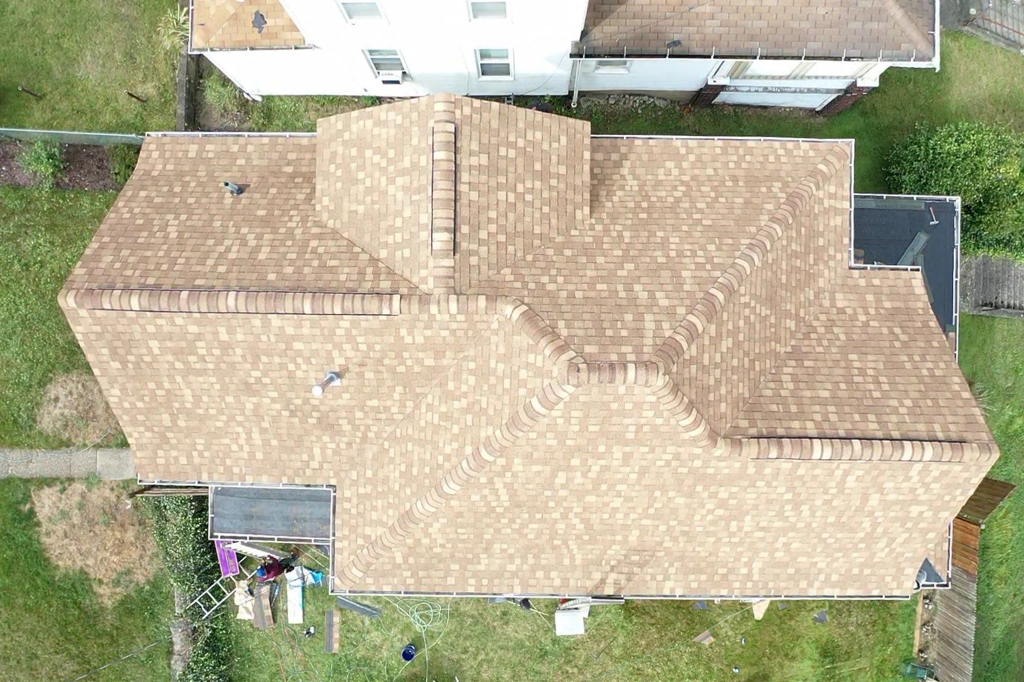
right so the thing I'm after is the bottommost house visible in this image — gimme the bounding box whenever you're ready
[62,93,996,603]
